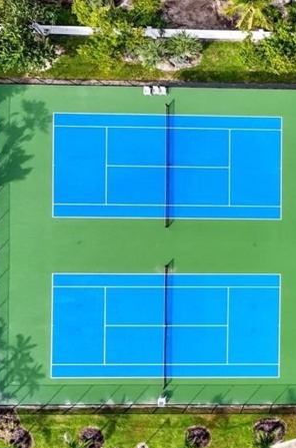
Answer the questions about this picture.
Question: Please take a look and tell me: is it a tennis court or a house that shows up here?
tennis court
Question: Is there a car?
No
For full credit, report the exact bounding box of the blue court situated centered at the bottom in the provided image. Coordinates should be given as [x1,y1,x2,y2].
[51,273,280,378]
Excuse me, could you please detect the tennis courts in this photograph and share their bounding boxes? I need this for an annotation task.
[51,273,280,378]
[52,112,281,220]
